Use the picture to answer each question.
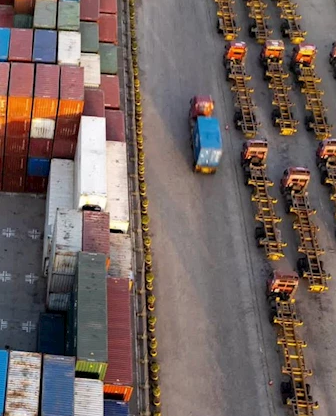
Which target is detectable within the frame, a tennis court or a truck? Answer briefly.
truck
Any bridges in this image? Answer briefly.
No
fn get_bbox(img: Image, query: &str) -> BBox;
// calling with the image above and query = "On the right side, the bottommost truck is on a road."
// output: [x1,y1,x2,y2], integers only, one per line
[263,268,319,416]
